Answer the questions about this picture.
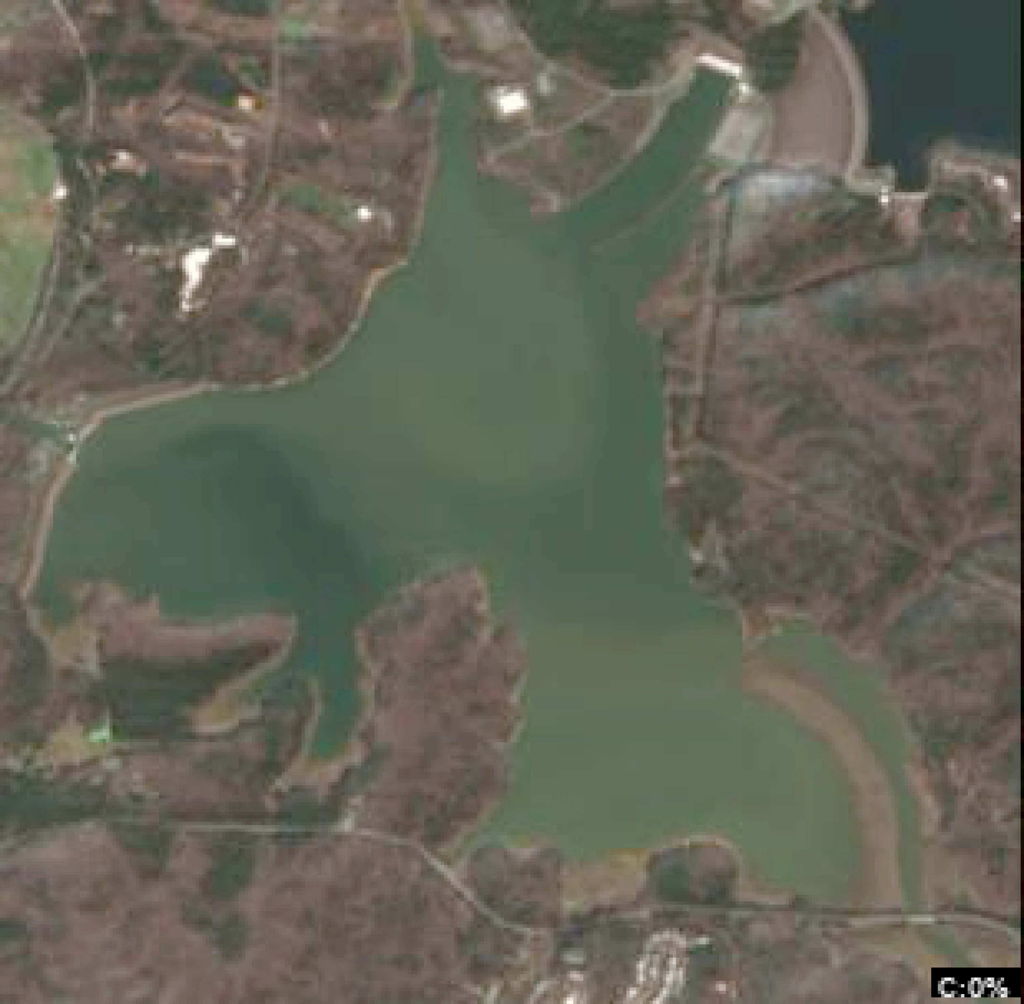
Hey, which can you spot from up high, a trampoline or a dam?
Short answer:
dam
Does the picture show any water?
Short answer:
Yes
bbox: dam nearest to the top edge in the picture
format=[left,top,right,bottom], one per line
[770,3,873,173]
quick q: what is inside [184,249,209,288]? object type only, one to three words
building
